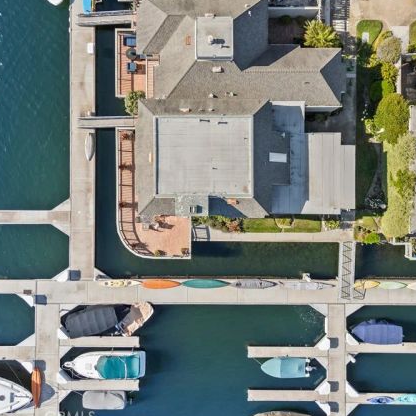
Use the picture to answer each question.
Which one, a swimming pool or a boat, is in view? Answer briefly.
boat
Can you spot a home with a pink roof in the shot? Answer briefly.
No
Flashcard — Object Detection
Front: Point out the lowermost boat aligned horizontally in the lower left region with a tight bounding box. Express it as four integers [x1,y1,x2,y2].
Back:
[72,386,135,410]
